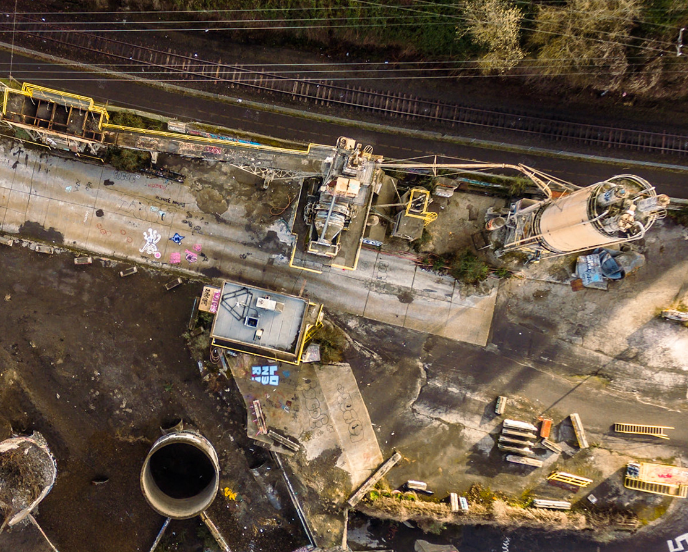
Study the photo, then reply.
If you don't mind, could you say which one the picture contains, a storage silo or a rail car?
storage silo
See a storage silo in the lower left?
Yes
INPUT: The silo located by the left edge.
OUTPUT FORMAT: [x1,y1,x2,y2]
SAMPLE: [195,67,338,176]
[0,435,55,528]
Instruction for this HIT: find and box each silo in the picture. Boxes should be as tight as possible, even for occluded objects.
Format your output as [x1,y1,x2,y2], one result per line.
[495,161,686,268]
[139,426,222,516]
[0,435,55,528]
